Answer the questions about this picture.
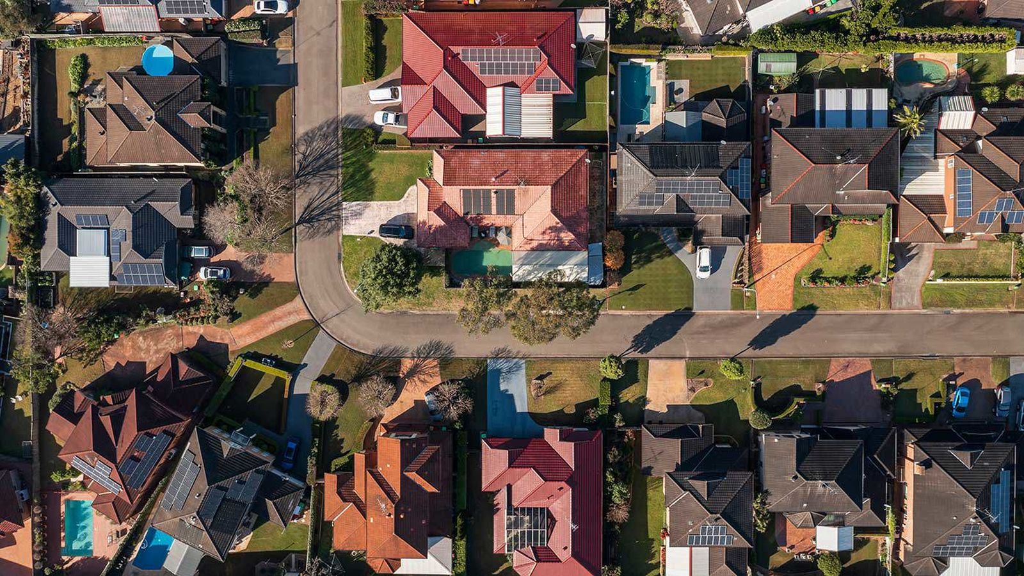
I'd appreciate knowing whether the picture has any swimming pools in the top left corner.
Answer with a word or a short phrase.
Yes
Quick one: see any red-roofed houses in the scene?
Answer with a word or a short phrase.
Yes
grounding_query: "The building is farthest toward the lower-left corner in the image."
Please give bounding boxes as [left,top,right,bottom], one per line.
[0,464,29,533]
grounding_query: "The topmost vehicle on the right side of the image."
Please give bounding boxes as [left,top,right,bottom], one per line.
[697,246,712,279]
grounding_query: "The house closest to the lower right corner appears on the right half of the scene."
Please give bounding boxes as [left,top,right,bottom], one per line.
[900,424,1024,576]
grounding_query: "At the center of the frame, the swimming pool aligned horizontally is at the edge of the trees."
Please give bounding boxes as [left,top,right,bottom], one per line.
[449,247,516,277]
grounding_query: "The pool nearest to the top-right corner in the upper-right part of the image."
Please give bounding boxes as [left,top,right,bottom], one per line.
[894,54,951,87]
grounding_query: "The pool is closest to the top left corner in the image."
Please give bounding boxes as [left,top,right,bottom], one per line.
[142,44,173,75]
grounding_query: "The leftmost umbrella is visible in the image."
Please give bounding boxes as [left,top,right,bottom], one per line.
[496,228,512,244]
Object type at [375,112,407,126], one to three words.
vehicle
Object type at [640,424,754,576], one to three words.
house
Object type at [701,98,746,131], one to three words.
gazebo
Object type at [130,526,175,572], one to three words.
swimming pool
